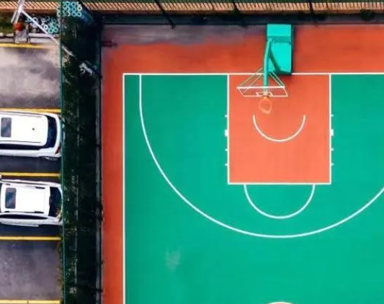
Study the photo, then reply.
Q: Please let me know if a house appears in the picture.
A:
No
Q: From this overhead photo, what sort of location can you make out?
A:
sports ground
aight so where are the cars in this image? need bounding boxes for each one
[0,110,71,161]
[0,180,71,229]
